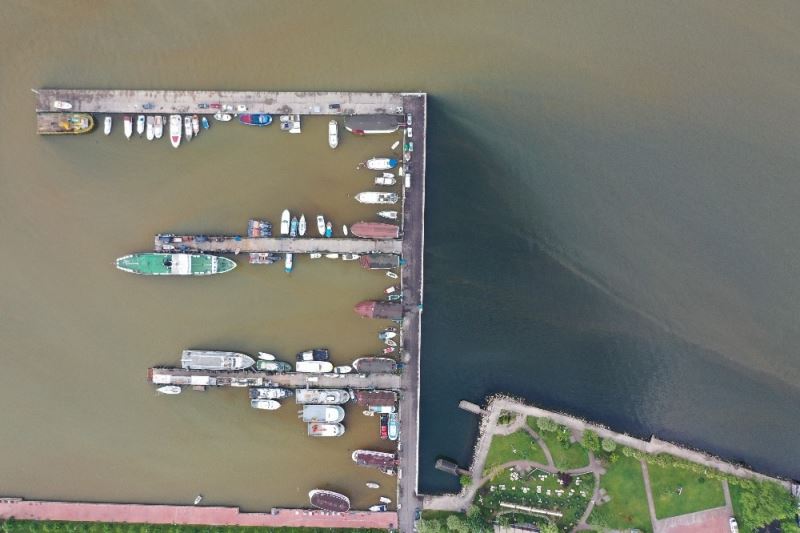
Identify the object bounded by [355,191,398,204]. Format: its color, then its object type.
white boat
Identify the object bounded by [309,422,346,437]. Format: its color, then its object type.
white ship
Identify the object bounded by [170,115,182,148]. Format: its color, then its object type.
white boat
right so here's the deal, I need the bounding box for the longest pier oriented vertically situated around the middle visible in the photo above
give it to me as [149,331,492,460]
[398,93,427,497]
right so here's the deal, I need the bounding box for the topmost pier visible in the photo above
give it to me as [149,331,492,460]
[36,90,404,116]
